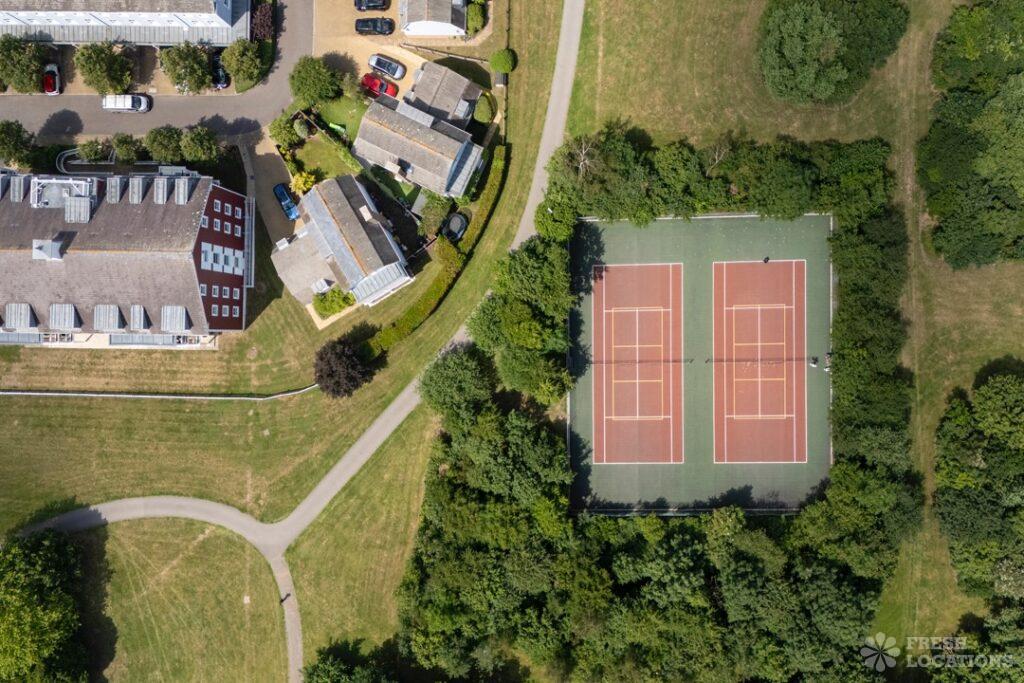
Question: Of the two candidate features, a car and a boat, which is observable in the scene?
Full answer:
Visible in the photo is a car.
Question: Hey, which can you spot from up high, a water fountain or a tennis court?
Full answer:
The image shows a tennis court.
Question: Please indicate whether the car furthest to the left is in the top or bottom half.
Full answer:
The car furthest to the left sits in the top half of the picture.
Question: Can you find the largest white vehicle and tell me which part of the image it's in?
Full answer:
You can find the largest white vehicle in the top left area of the picture.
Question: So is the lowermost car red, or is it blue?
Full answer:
From above, the lowermost car appears blue.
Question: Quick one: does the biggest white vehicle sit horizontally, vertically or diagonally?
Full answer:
The biggest white vehicle is laid out horizontally.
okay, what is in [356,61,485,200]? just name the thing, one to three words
house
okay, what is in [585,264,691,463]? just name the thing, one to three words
tennis court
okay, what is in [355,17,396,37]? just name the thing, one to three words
car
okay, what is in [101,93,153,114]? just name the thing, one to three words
vehicle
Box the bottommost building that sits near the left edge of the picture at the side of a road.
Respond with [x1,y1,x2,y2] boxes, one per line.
[0,173,254,347]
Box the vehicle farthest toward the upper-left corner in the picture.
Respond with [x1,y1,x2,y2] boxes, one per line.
[42,65,62,98]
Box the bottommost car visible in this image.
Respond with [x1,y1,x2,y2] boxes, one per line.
[274,183,301,221]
